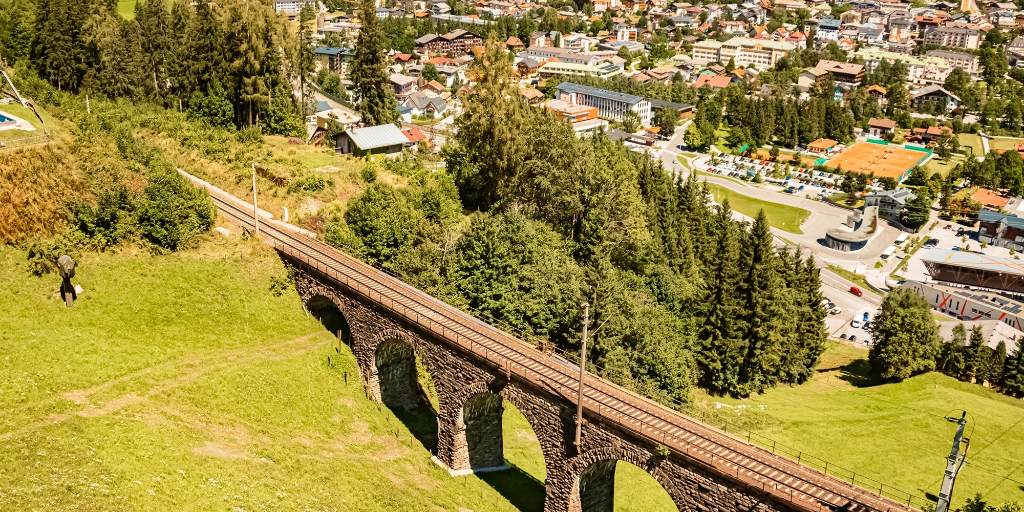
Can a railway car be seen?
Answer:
No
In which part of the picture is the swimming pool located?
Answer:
top left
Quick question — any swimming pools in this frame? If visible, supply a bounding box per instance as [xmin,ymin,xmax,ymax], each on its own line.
[0,110,36,141]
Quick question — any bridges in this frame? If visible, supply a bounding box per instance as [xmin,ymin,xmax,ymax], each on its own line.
[261,233,913,512]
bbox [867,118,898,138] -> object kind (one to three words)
house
